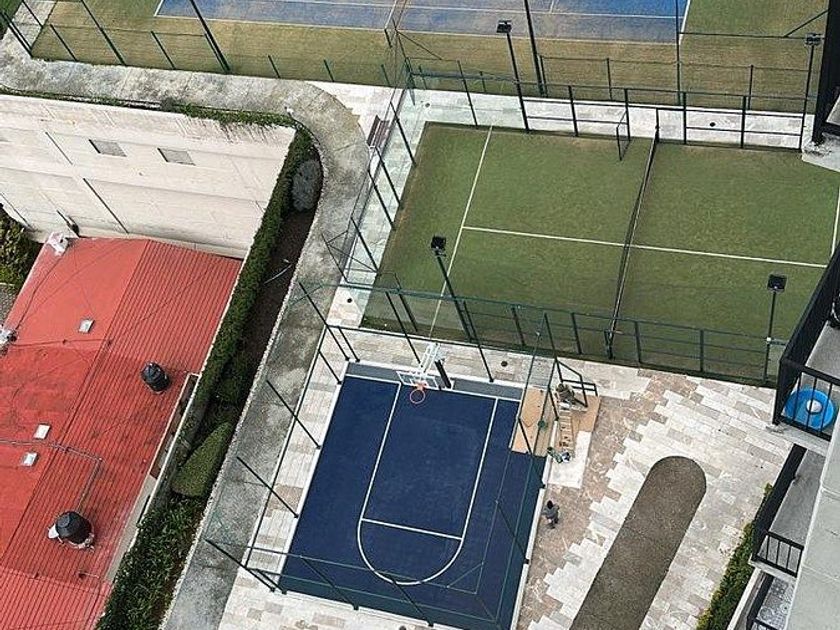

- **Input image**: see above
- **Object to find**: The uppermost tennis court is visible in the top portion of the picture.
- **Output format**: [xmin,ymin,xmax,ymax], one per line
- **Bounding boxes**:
[33,0,833,115]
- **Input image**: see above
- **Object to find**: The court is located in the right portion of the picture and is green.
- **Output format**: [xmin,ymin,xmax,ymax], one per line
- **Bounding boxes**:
[360,121,840,390]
